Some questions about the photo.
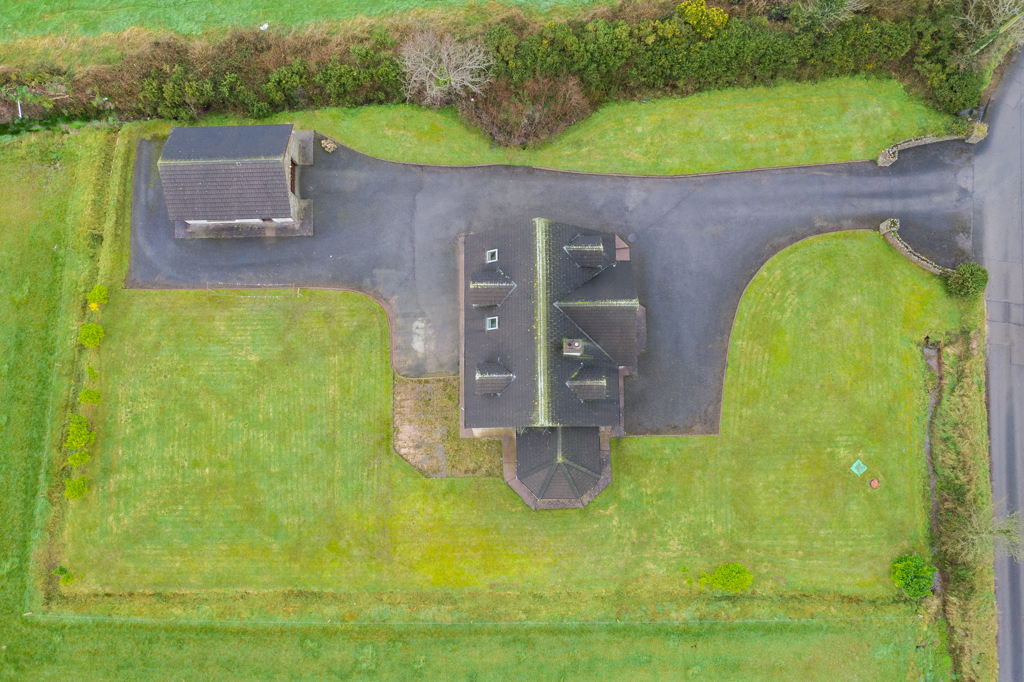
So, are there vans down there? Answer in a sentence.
No, the frame has no van in it.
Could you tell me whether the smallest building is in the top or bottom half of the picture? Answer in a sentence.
The smallest building sits in the top half of the picture.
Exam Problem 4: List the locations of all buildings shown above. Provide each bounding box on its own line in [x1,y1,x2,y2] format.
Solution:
[156,122,301,225]
[463,217,642,501]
